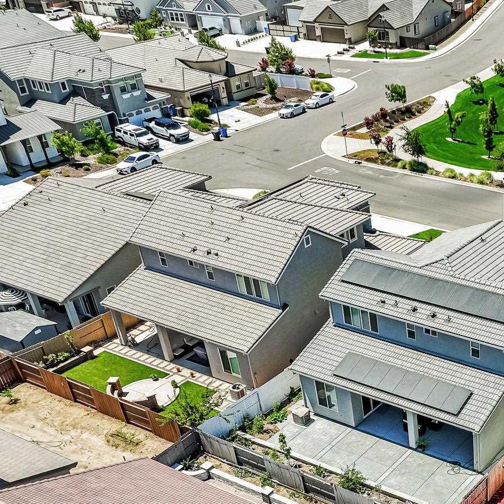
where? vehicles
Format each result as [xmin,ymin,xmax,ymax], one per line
[114,120,161,149]
[272,97,310,118]
[304,88,337,108]
[146,114,193,142]
[110,149,161,174]
[44,4,71,19]
[286,57,319,72]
